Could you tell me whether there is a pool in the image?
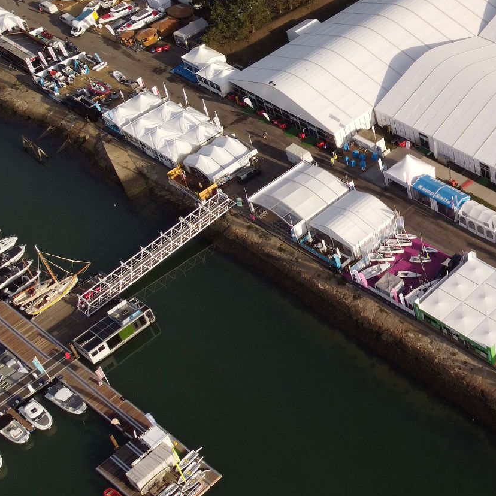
No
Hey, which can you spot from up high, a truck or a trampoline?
truck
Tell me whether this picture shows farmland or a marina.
marina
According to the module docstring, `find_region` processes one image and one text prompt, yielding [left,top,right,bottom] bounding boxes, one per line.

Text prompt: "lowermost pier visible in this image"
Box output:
[95,421,223,496]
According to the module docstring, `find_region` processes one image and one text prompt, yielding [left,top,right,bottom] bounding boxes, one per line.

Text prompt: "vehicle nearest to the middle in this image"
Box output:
[234,164,263,184]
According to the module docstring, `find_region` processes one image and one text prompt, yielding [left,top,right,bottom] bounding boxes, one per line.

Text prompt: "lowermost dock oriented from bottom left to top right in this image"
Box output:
[0,347,81,409]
